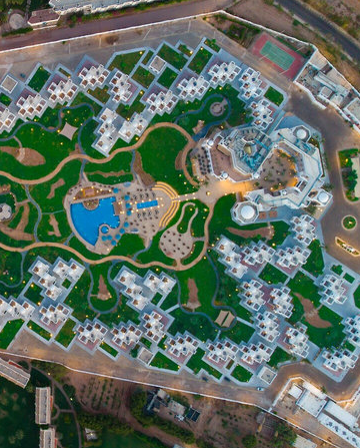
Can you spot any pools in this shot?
Yes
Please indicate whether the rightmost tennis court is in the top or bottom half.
top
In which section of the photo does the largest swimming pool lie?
left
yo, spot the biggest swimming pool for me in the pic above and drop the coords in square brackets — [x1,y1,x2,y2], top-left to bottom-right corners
[70,195,121,246]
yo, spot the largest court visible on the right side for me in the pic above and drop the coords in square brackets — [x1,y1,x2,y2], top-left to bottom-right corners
[251,33,304,79]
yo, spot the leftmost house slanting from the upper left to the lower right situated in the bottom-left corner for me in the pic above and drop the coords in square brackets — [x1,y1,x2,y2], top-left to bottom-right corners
[0,357,30,387]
